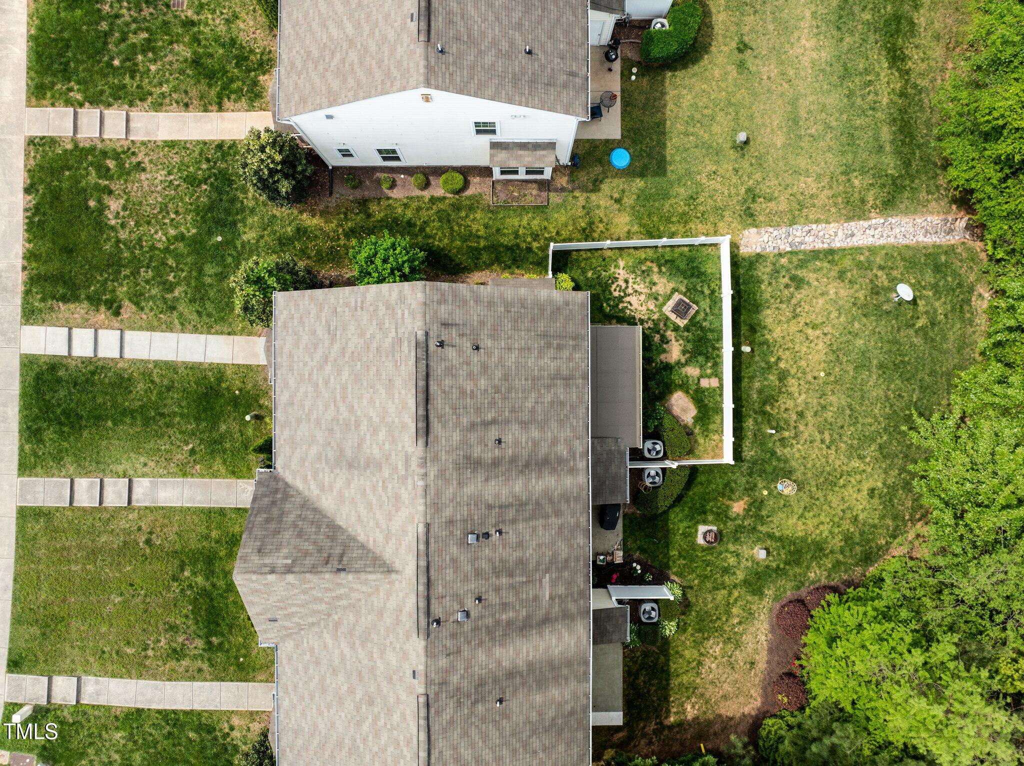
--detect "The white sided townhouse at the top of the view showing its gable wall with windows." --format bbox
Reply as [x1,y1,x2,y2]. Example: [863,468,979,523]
[268,0,631,180]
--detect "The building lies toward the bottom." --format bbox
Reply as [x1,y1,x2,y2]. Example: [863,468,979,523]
[232,279,642,766]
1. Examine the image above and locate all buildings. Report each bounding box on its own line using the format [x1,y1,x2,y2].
[268,0,631,180]
[232,279,642,766]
